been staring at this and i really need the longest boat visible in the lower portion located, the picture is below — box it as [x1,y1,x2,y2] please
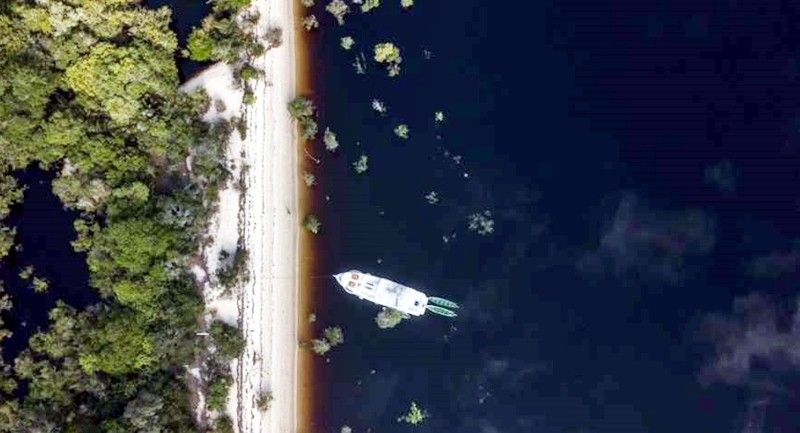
[332,272,427,317]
